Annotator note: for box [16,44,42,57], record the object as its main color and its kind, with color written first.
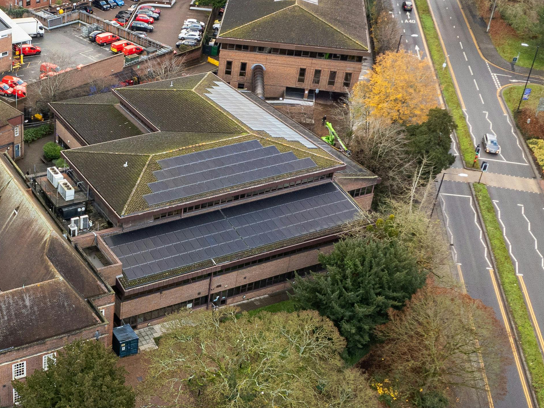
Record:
red vehicle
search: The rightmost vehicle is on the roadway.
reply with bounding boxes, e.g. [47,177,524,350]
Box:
[482,131,501,155]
